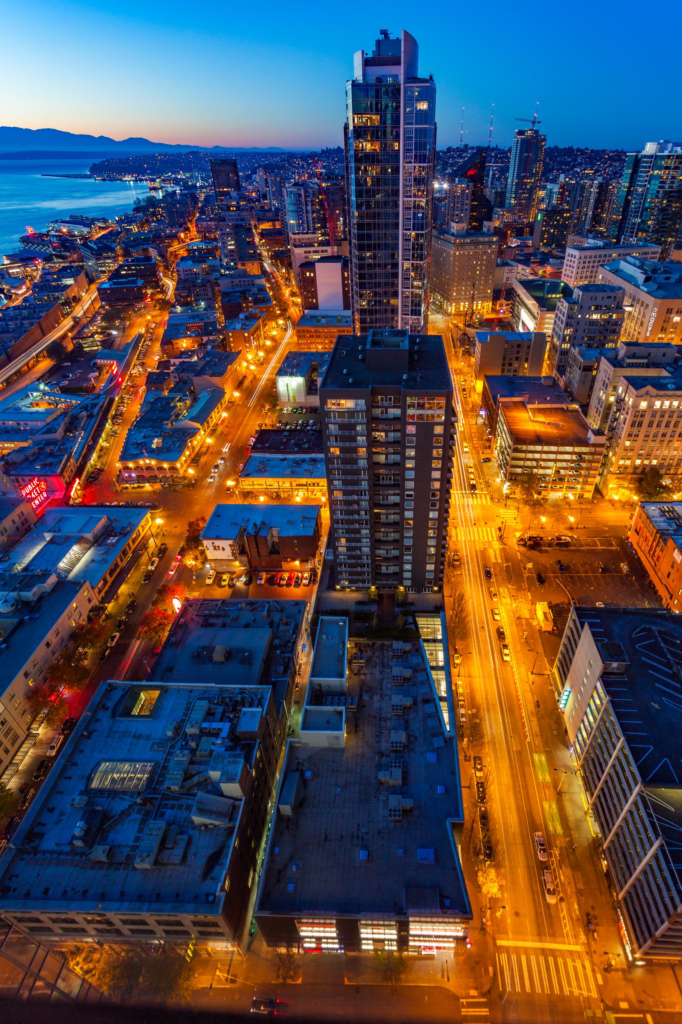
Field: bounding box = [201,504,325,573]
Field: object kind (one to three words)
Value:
building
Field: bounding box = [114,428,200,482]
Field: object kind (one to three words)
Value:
building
